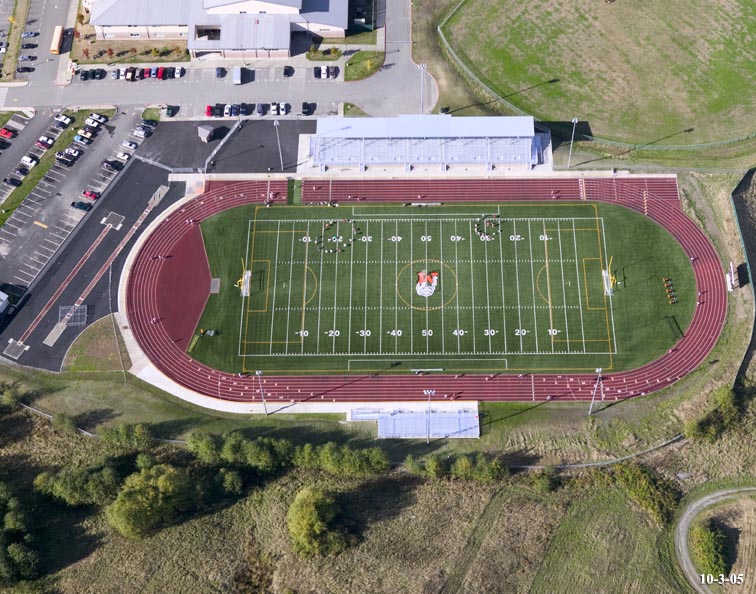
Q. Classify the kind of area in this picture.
sports ground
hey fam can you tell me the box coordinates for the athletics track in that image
[125,178,727,403]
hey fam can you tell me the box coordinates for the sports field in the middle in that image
[185,201,697,376]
